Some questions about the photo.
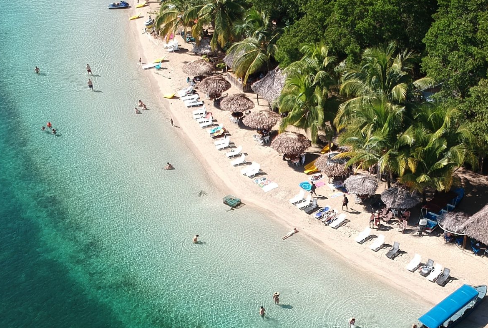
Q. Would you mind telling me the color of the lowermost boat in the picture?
blue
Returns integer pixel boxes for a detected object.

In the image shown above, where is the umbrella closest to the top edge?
[189,32,221,61]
